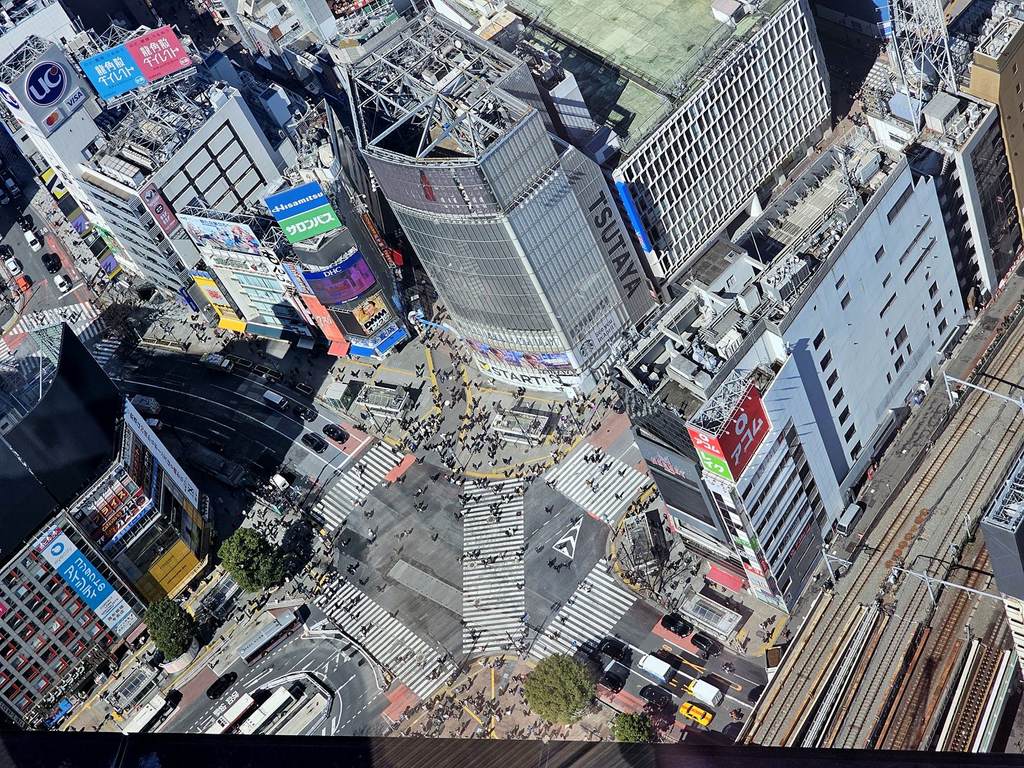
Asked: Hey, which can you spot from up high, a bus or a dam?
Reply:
bus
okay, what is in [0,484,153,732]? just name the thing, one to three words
building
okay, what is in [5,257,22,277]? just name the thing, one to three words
car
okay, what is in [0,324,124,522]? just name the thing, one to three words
building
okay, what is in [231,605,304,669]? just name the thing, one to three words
bus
